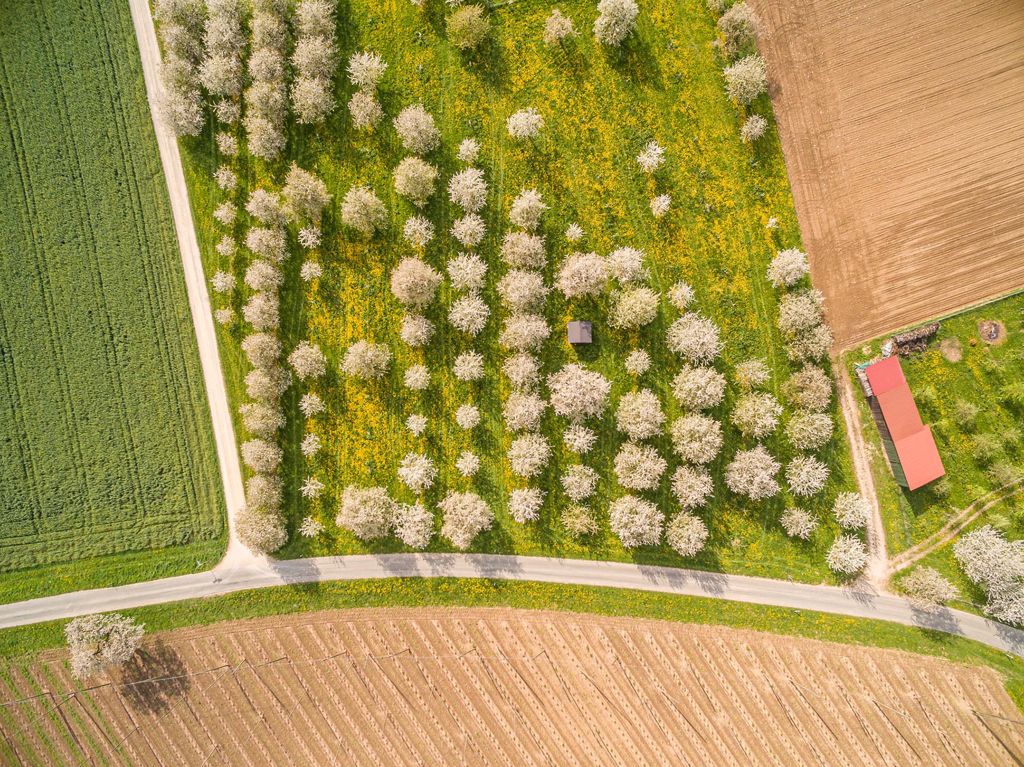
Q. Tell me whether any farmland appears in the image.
Yes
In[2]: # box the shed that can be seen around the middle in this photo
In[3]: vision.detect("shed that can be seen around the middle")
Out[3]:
[568,321,592,343]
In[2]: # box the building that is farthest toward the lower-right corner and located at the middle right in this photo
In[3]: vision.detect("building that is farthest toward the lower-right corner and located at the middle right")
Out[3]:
[855,355,945,491]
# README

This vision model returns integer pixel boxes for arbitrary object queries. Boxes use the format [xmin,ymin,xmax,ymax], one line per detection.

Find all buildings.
[568,321,592,343]
[855,355,945,491]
